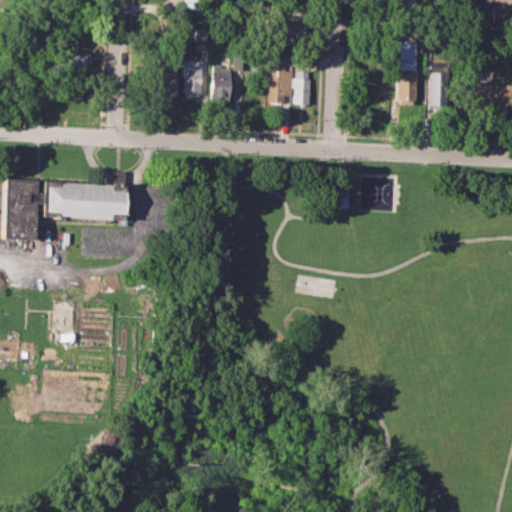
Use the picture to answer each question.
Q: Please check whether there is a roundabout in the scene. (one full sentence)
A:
No, there's no roundabout here.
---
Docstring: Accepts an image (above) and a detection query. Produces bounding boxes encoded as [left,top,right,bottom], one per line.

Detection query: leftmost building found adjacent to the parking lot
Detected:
[4,180,39,240]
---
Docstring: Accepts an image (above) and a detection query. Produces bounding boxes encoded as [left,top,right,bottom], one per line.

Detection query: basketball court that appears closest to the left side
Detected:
[296,275,336,299]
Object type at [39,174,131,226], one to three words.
building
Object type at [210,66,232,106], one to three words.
house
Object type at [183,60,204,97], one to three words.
house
